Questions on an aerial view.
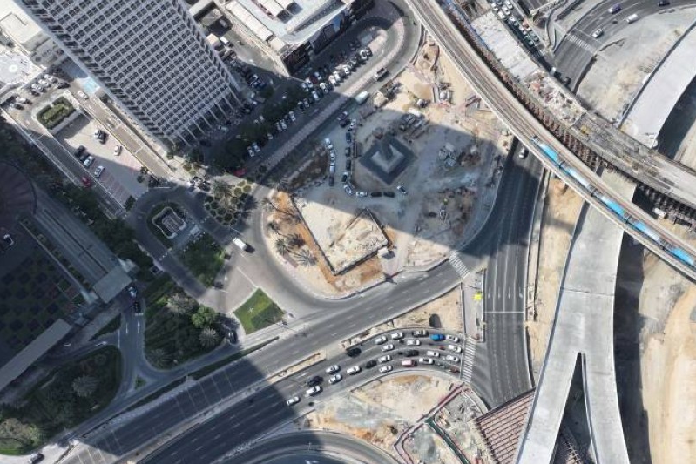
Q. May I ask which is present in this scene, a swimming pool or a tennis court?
swimming pool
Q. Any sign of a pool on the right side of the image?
No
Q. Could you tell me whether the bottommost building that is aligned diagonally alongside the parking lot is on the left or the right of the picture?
left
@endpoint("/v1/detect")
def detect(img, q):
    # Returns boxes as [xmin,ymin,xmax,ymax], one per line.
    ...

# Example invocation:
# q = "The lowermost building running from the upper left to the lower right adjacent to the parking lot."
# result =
[35,196,130,290]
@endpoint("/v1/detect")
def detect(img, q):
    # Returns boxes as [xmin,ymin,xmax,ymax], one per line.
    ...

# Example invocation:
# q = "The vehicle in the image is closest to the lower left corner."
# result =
[28,451,44,464]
